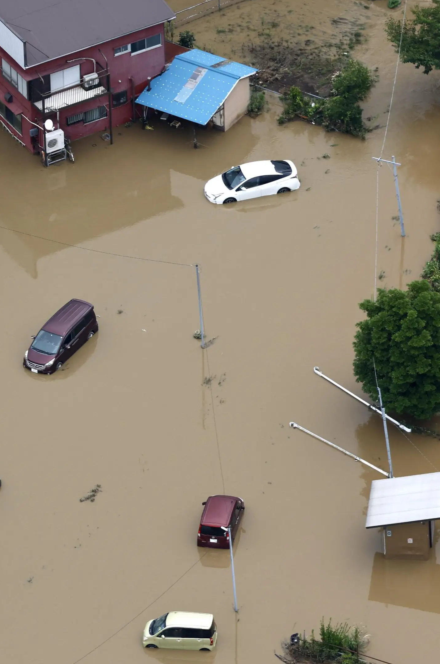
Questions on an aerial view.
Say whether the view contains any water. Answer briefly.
Yes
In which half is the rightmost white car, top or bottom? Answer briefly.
top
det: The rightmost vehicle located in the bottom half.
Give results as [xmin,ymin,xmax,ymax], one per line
[198,497,241,551]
